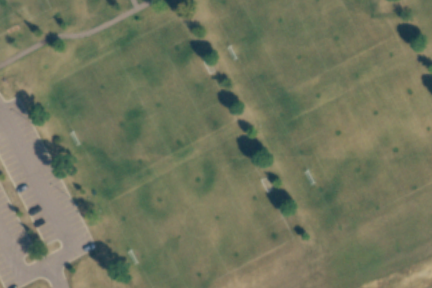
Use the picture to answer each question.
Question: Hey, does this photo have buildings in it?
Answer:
No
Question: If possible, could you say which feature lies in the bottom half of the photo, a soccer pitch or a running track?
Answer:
soccer pitch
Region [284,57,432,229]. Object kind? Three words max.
soccer field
